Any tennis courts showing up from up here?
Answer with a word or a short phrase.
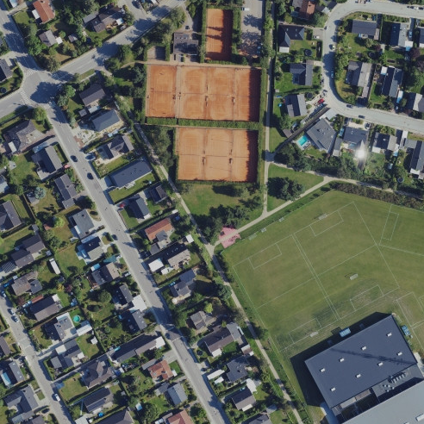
Yes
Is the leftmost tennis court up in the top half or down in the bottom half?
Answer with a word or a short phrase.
top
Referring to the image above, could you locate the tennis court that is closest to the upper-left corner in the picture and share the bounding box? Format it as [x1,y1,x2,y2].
[145,66,177,117]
